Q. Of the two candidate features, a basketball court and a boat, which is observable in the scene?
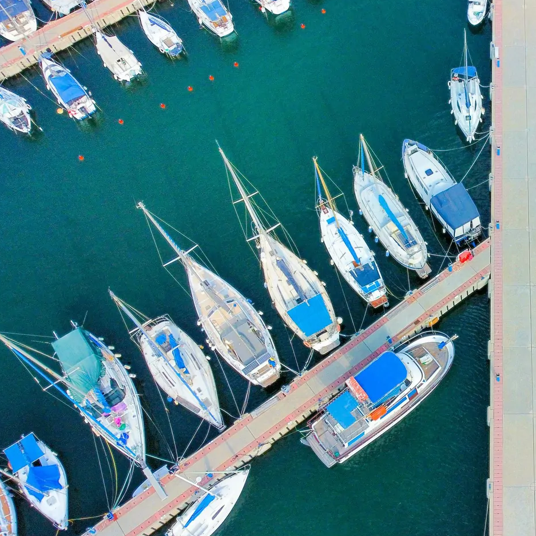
boat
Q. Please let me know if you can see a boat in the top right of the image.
Yes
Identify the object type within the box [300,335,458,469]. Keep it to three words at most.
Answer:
boat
